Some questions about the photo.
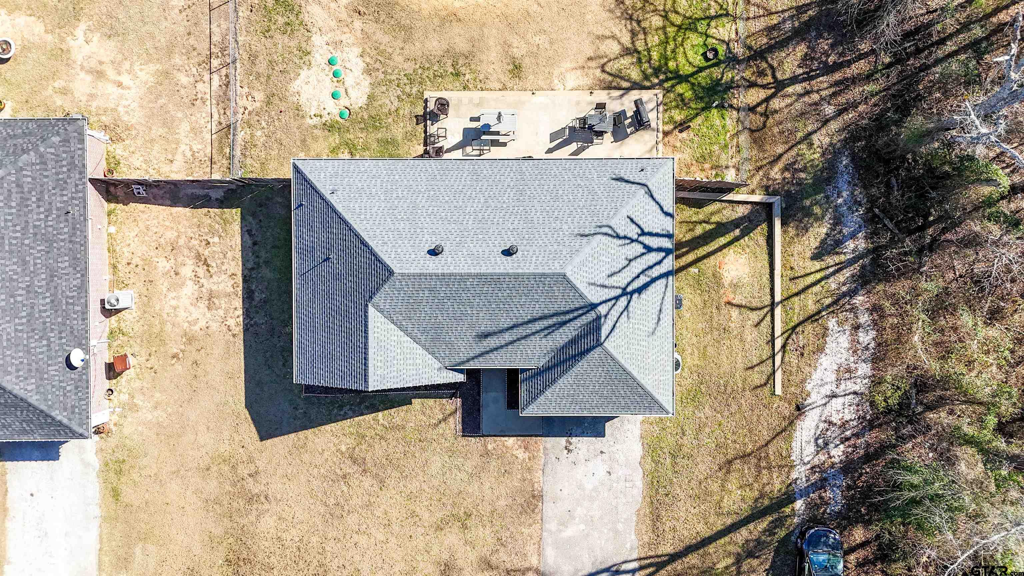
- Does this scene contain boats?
No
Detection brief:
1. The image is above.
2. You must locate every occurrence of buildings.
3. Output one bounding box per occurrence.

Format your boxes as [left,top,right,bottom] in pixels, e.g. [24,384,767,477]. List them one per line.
[0,113,114,444]
[292,157,676,417]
